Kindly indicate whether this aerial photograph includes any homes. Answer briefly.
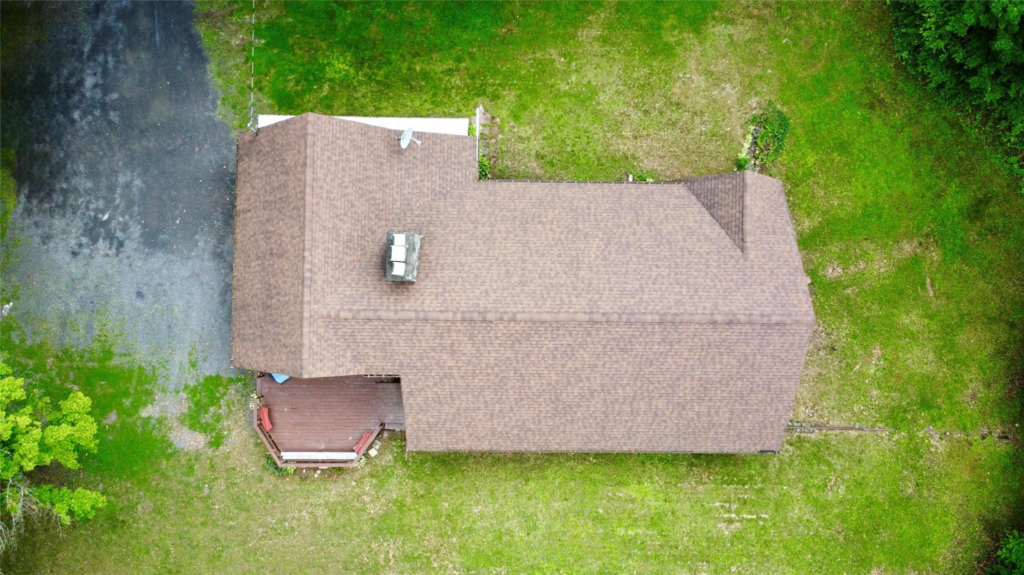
Yes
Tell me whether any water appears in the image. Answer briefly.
No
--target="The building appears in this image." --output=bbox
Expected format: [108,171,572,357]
[230,105,815,458]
